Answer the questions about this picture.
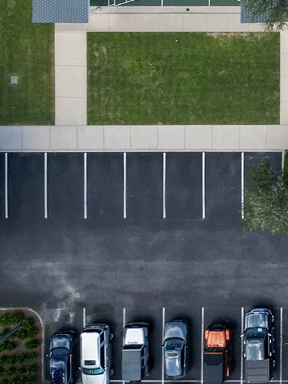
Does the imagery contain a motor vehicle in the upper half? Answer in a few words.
No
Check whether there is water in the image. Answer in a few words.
No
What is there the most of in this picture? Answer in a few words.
paved ground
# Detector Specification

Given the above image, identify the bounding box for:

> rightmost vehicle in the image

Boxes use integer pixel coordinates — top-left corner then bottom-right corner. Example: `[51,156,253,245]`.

[239,314,273,384]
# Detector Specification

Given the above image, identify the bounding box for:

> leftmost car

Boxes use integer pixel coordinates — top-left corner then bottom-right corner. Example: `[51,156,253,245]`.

[44,335,77,384]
